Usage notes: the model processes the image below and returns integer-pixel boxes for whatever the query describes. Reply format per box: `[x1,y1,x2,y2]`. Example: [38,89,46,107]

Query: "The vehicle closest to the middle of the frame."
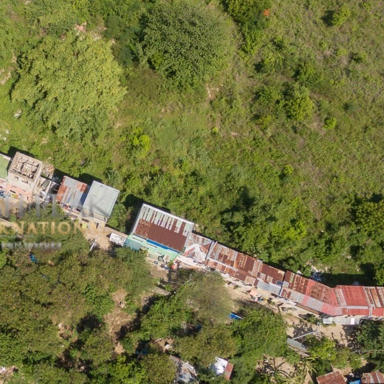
[105,231,129,249]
